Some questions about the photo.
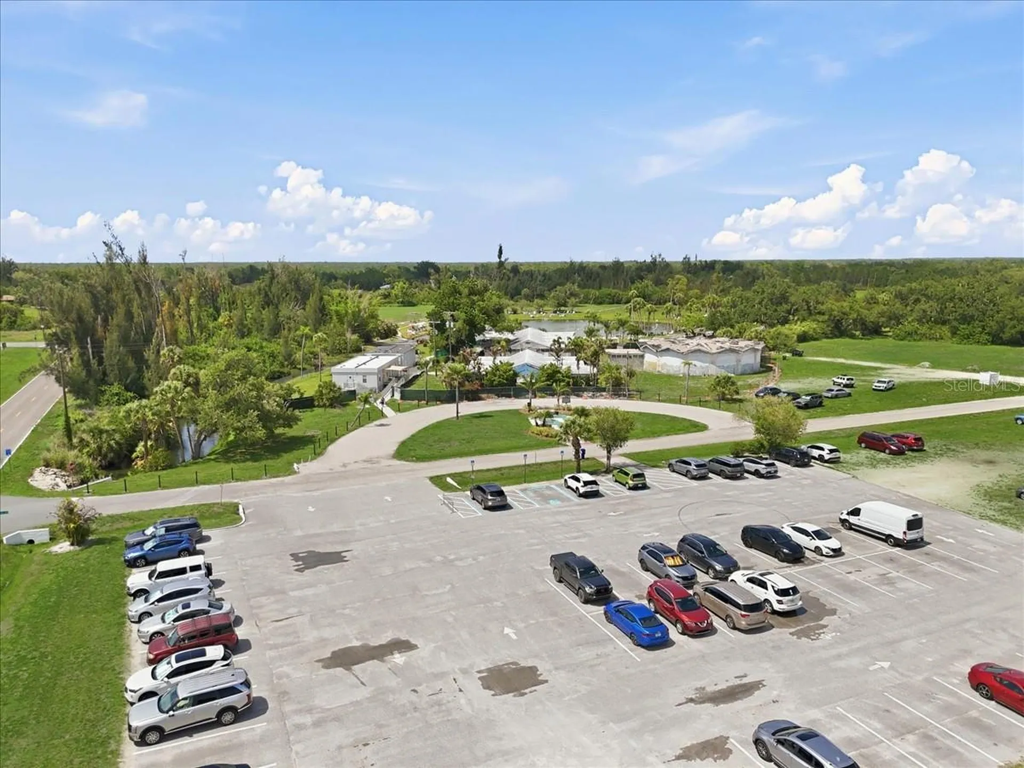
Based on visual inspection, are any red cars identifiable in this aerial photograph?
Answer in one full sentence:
Yes, looking at the shot, I can spot a red car.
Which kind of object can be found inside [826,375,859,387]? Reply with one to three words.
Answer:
vehicle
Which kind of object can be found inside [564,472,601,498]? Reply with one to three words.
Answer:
car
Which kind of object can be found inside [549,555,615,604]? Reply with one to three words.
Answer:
truck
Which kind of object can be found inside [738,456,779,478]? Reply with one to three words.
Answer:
car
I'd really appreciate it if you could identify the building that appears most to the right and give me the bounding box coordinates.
[631,327,767,375]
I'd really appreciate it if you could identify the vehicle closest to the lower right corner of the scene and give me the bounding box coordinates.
[967,662,1024,714]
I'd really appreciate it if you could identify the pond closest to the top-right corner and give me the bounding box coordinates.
[509,320,677,338]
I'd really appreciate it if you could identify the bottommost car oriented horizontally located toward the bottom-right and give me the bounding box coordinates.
[749,721,861,768]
